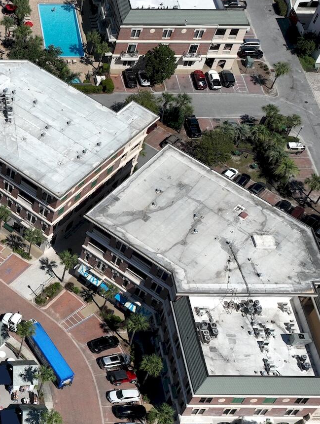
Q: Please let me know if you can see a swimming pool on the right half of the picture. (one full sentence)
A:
No, I see no swimming pool on the right half of the picture.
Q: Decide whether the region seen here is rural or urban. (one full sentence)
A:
It looks urban.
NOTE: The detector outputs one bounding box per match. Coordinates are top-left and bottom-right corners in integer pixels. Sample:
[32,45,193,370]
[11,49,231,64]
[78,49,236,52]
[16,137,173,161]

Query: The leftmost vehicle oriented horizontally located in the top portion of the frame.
[161,134,185,148]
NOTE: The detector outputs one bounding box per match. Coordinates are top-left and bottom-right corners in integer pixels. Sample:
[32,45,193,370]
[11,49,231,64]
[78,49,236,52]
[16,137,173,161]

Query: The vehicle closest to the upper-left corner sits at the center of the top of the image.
[121,68,139,90]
